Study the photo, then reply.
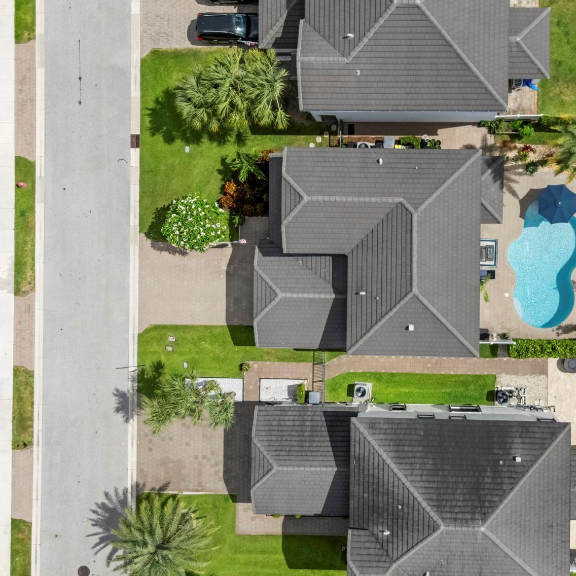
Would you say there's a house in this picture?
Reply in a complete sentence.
Yes, there's a house here.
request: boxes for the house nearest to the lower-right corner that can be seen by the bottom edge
[249,402,576,576]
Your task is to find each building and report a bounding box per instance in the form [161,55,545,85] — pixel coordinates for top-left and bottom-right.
[258,0,553,125]
[249,402,576,576]
[250,146,505,359]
